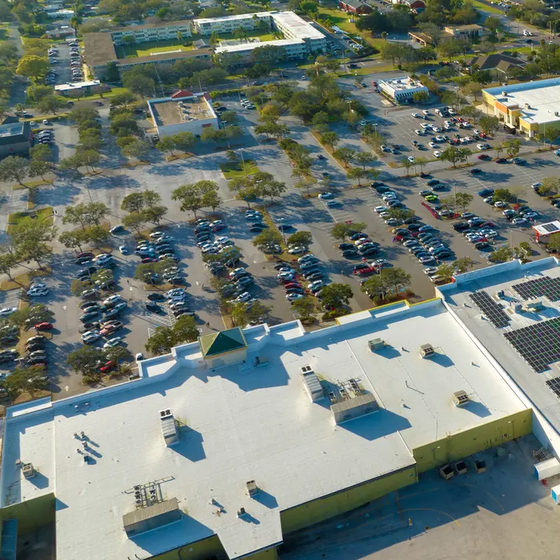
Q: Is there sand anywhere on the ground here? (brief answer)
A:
No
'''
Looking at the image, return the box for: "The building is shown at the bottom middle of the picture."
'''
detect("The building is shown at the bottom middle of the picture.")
[0,289,535,560]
